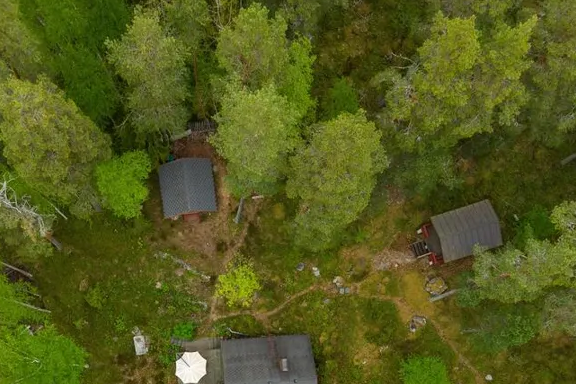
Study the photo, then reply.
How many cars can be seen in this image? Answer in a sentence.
Not a single car can be seen.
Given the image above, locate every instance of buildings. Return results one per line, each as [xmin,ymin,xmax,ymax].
[160,158,217,225]
[406,199,503,266]
[221,333,318,384]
